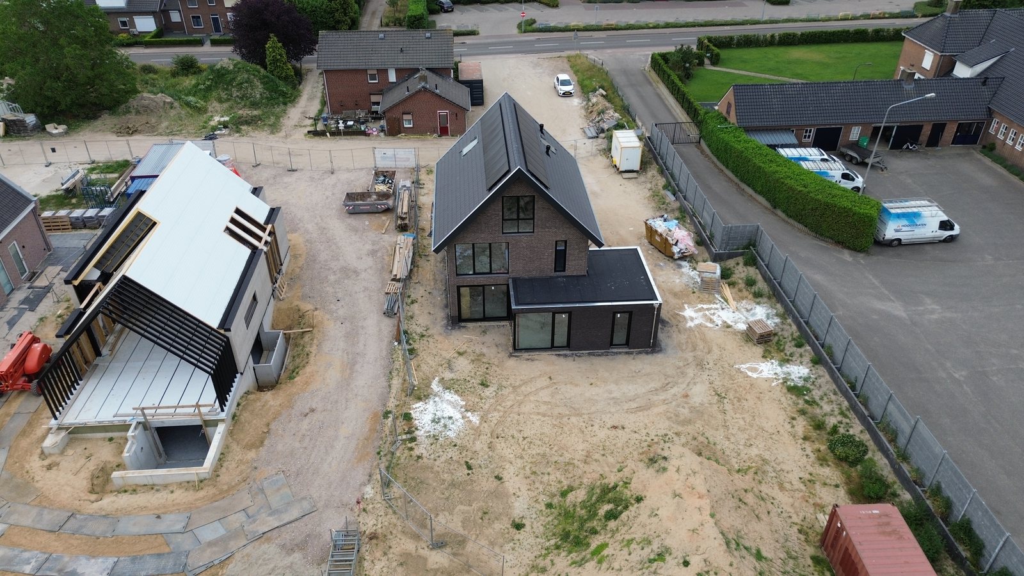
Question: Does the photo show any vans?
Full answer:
Yes, there's a van down there.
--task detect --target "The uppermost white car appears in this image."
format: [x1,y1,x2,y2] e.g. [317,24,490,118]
[555,73,575,94]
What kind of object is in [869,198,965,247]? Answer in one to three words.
van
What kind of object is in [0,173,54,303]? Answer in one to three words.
house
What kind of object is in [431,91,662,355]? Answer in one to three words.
house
